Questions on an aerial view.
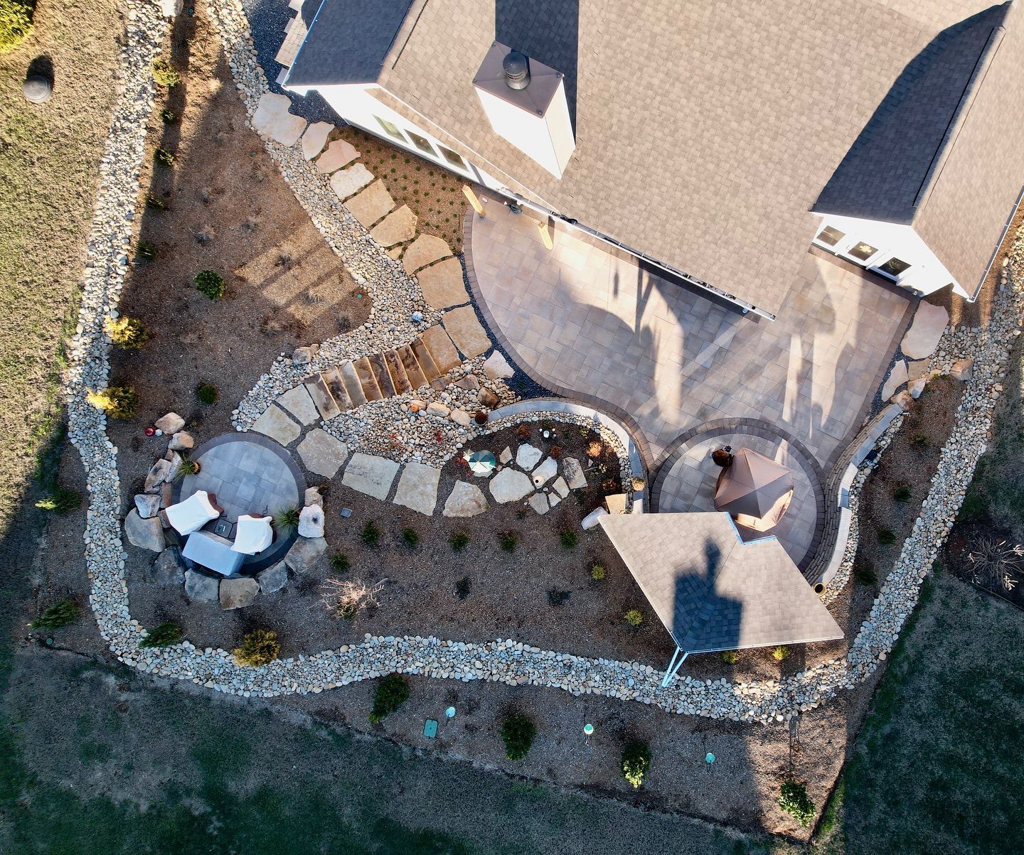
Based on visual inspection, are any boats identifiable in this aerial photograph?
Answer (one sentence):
No, the picture doesn't show any boat.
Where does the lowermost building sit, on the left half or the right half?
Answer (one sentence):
It is on the right.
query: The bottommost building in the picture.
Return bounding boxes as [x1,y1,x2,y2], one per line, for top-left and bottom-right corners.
[595,510,845,690]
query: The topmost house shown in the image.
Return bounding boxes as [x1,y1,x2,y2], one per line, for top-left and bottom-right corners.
[277,0,1024,325]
